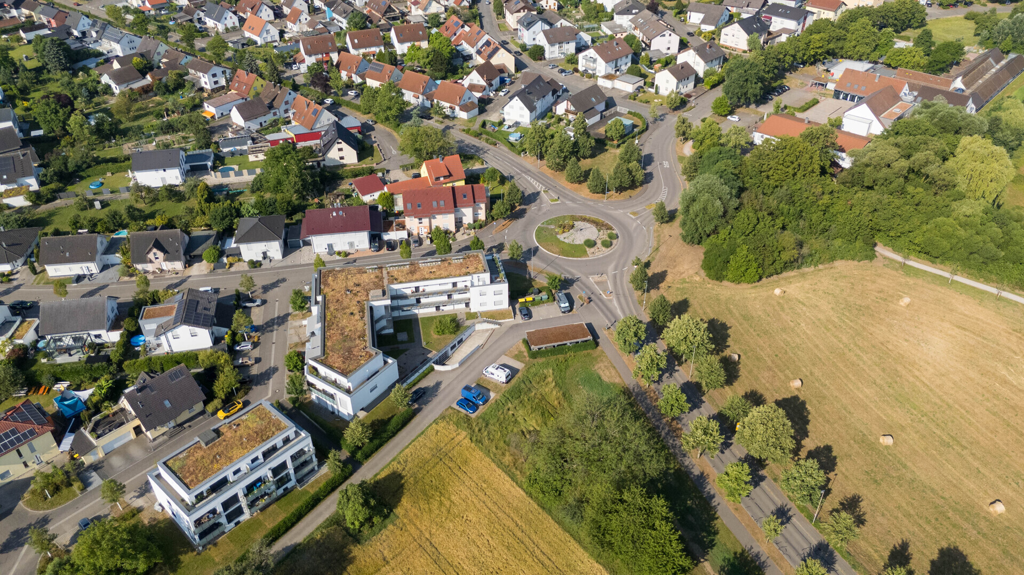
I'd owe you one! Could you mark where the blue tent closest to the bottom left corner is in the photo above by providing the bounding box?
[54,391,90,429]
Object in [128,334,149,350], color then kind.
blue swimming pool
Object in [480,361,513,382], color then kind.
white vehicle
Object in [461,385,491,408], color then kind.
blue vehicle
